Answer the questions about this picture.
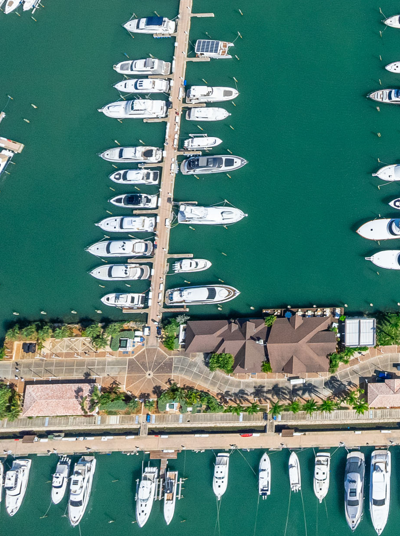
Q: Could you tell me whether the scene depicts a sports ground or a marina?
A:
marina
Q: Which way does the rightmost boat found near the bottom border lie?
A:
vertically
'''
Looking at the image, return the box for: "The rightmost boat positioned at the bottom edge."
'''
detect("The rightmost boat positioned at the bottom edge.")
[368,450,392,535]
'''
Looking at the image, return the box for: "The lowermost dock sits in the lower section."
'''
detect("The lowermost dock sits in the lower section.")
[150,452,179,478]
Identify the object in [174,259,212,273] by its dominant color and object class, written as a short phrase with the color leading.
white boat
